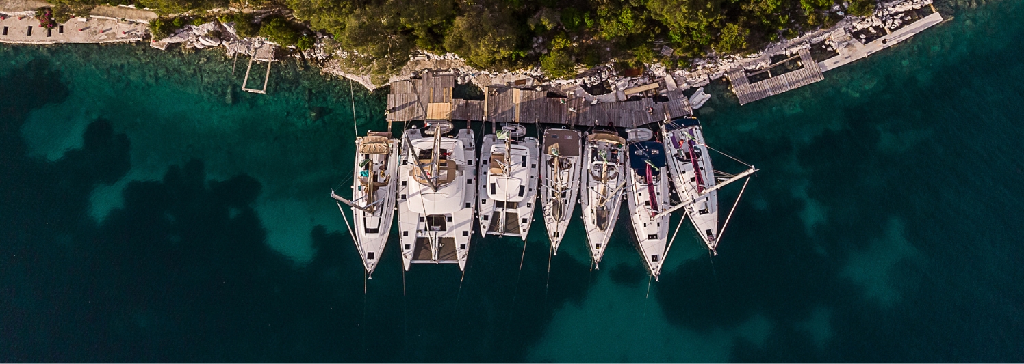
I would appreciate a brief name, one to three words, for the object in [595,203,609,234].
boat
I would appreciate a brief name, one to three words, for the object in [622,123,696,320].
boat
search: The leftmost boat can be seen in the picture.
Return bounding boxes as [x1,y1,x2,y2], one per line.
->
[331,81,405,300]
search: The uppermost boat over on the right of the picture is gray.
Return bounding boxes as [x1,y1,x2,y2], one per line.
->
[689,83,713,110]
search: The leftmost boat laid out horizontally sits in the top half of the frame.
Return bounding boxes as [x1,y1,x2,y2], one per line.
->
[423,121,453,135]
